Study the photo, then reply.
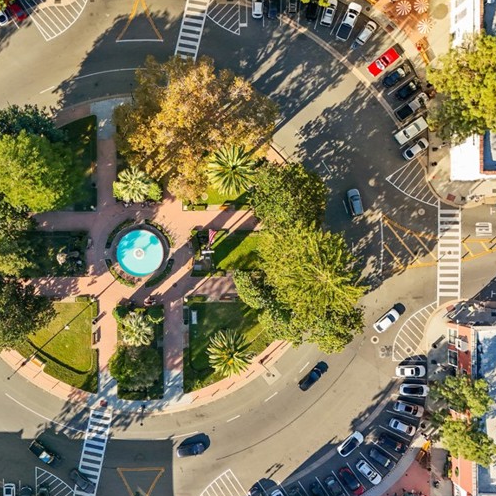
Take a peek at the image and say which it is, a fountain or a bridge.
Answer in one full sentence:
This aerial view contains a fountain.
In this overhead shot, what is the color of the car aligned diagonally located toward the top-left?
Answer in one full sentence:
In this view, the car aligned diagonally located toward the top-left is red.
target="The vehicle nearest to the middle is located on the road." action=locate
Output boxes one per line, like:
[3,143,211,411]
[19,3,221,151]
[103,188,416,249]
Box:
[347,188,363,216]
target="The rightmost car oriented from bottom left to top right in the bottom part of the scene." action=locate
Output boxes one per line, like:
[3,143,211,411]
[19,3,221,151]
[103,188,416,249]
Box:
[371,308,400,333]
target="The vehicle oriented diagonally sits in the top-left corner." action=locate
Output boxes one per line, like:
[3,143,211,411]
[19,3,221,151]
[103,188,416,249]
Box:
[4,0,30,24]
